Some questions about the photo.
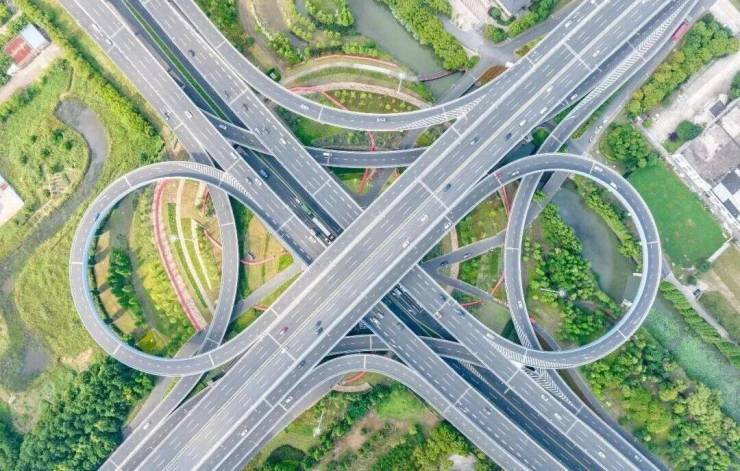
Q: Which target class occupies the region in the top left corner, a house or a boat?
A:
house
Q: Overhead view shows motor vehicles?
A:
Yes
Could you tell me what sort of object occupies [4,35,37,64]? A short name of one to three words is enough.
house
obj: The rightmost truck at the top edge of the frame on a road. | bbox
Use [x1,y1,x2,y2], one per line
[673,19,694,43]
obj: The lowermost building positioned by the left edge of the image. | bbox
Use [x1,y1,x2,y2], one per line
[0,164,32,227]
